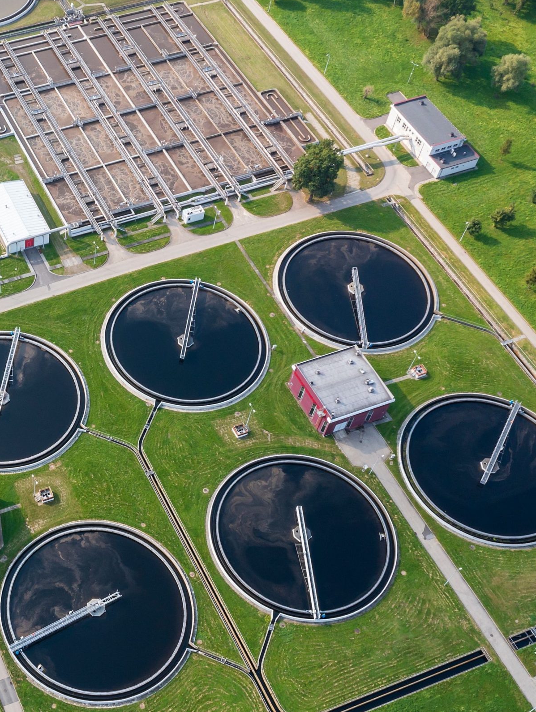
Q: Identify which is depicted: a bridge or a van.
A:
bridge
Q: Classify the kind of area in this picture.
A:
industrial area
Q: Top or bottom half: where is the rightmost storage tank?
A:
bottom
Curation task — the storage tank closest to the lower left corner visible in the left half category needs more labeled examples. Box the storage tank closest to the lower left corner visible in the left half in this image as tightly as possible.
[0,521,199,706]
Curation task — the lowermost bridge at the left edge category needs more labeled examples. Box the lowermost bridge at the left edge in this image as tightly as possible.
[7,589,124,657]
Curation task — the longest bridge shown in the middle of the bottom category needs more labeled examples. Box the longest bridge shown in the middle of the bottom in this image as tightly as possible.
[291,505,325,621]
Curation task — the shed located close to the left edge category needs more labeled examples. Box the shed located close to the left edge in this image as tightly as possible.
[0,177,50,254]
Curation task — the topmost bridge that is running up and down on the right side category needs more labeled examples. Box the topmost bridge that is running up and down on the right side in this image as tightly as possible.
[347,266,372,350]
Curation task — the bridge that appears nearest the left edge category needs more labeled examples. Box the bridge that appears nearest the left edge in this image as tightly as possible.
[0,328,21,416]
